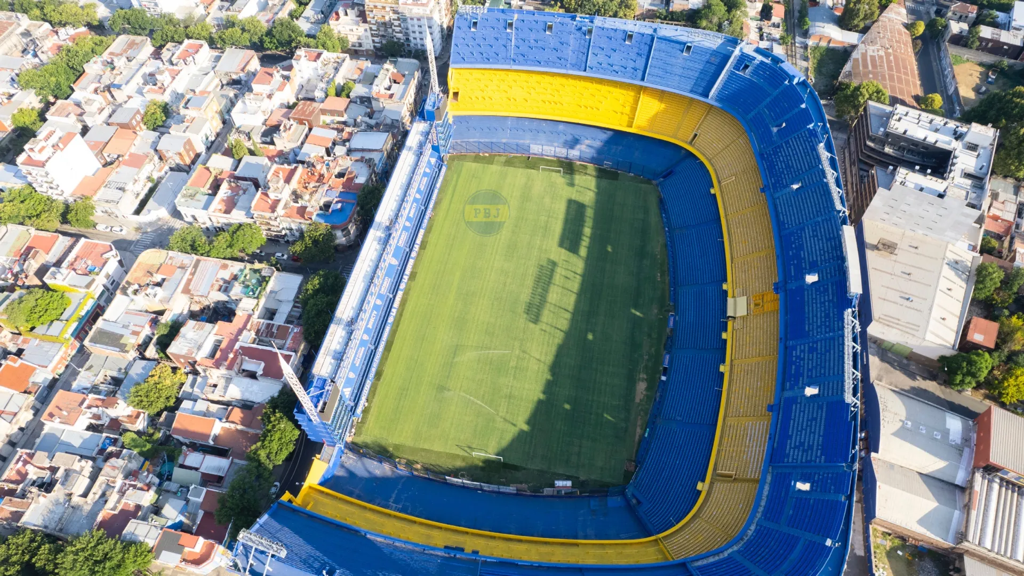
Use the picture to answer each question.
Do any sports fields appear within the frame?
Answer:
Yes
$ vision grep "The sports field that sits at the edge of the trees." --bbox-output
[363,161,653,482]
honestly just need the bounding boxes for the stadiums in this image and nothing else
[224,8,861,576]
